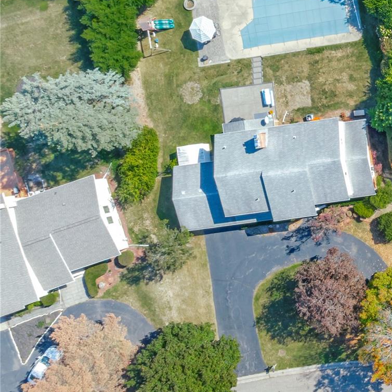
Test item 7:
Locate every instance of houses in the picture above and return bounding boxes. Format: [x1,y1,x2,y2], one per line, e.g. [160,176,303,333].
[172,115,378,232]
[0,164,147,316]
